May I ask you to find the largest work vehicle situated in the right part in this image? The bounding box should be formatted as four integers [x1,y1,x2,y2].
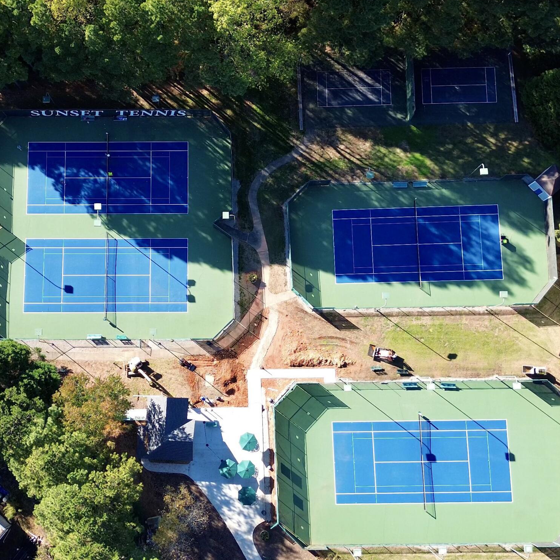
[368,345,398,365]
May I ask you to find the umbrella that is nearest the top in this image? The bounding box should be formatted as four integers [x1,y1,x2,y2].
[240,432,258,451]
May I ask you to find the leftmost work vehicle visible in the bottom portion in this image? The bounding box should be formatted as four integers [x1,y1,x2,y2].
[120,363,154,396]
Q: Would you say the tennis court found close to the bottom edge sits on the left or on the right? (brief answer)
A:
right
